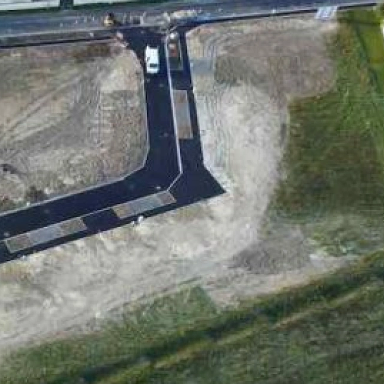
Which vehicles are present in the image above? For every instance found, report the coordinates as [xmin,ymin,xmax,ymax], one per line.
[146,47,162,72]
[104,7,119,27]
